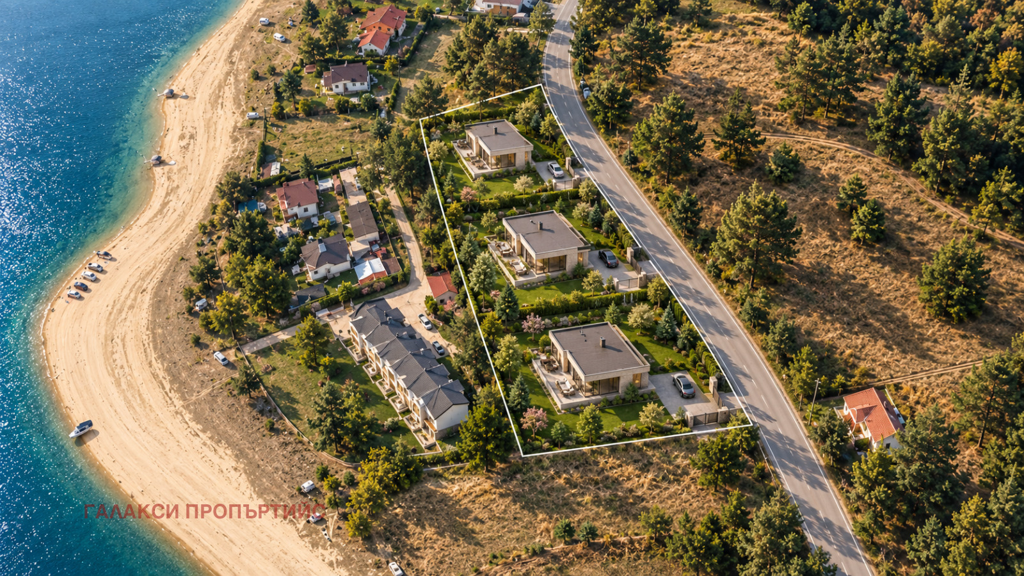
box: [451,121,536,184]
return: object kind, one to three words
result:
house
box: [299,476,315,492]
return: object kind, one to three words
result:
vehicle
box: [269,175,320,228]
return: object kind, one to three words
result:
house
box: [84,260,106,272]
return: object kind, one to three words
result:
vehicle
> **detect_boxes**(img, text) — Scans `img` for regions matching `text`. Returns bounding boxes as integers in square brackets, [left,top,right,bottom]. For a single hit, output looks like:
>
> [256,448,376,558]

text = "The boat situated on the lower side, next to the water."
[67,416,94,433]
